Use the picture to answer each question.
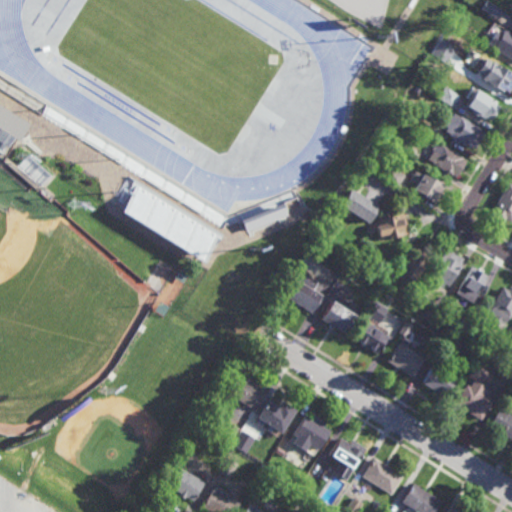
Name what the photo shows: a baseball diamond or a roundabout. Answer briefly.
baseball diamond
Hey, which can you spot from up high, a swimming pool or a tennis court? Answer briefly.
swimming pool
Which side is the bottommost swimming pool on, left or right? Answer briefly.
right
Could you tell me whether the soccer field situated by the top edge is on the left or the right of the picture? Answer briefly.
left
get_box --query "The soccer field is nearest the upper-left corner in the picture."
[60,0,282,154]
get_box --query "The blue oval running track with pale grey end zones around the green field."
[0,0,371,211]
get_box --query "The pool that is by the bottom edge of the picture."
[317,476,350,512]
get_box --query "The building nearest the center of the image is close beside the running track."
[245,204,290,234]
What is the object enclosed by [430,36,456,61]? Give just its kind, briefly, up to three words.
building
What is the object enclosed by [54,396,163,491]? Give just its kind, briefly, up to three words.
baseball field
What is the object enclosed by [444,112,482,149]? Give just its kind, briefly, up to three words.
house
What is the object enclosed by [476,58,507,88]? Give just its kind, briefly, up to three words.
house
